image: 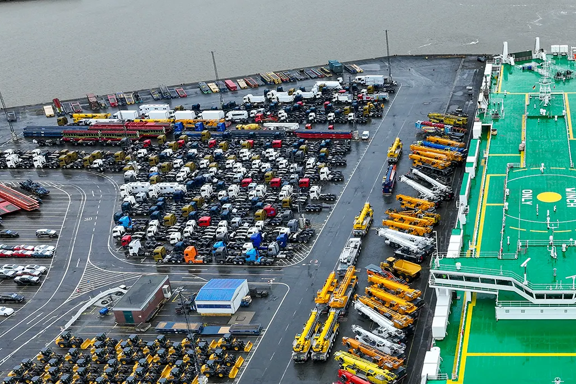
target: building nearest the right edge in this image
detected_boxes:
[192,275,254,314]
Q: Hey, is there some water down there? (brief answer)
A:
Yes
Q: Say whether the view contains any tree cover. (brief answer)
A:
No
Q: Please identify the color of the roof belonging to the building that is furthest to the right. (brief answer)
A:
blue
